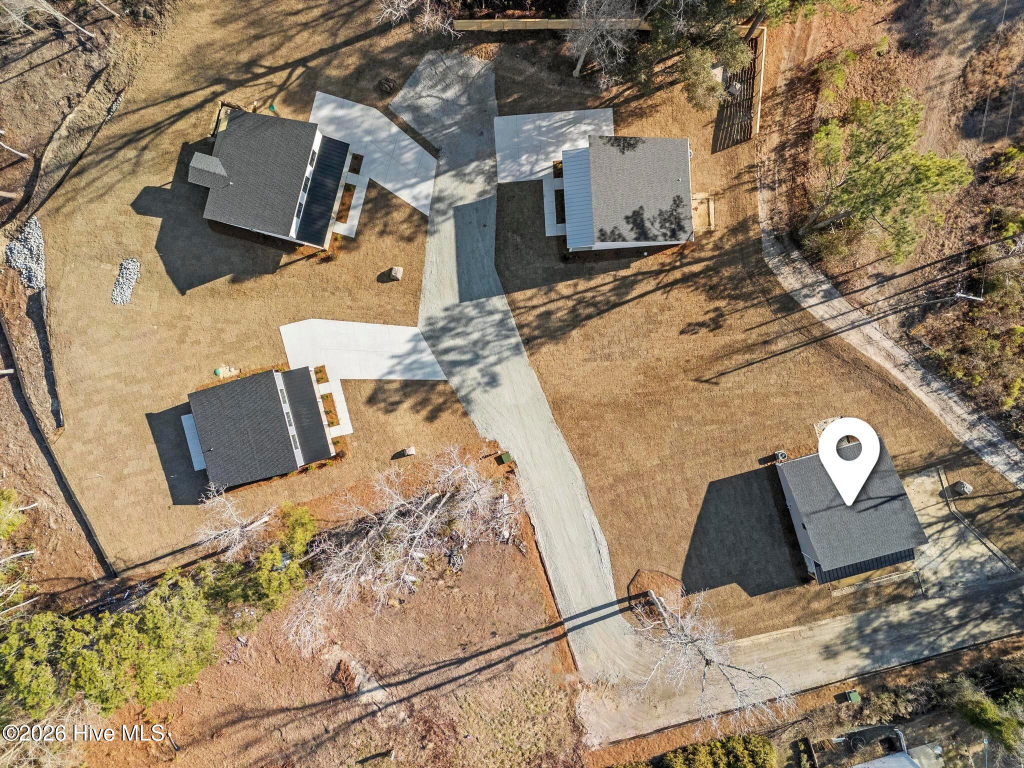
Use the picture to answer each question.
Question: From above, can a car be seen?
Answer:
No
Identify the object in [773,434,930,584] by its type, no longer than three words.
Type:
house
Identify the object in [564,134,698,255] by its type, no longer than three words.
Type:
house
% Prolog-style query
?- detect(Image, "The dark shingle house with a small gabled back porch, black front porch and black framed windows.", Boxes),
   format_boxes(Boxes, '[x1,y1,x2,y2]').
[187,109,351,252]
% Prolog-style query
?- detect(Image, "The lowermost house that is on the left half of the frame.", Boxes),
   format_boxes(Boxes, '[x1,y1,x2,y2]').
[186,367,335,491]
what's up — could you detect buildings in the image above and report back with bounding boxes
[187,109,351,252]
[186,367,335,491]
[835,739,919,768]
[773,434,930,584]
[564,134,698,255]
